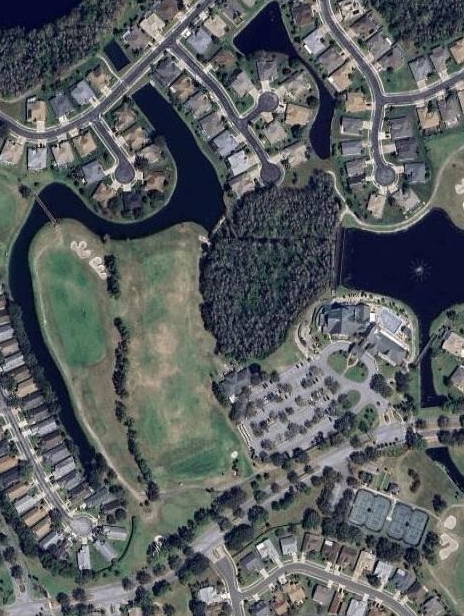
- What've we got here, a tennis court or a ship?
tennis court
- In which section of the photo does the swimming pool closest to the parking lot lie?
right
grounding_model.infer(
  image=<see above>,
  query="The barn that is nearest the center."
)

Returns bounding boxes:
[217,365,254,401]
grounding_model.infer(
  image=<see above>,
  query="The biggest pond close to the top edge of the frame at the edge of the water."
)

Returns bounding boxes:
[233,1,334,159]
